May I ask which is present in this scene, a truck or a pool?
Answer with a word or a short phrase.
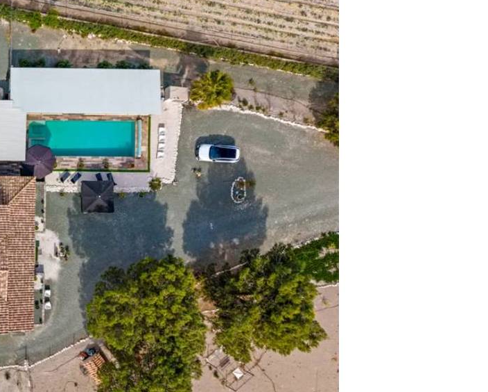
pool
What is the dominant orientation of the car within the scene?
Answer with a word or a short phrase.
horizontally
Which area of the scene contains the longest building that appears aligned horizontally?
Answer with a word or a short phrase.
top left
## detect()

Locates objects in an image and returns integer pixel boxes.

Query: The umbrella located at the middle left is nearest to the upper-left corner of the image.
[23,146,55,178]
